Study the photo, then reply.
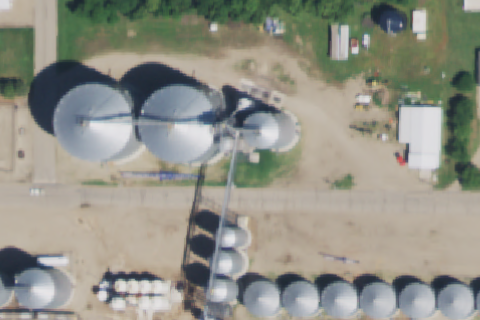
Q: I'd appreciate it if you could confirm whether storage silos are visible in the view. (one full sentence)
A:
Yes, a storage silo can be made out from above.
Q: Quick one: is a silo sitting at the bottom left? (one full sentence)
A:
Yes, at the bottom left there is a silo.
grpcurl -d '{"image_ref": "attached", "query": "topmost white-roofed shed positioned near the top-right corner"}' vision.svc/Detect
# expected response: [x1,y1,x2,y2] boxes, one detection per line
[413,11,428,40]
